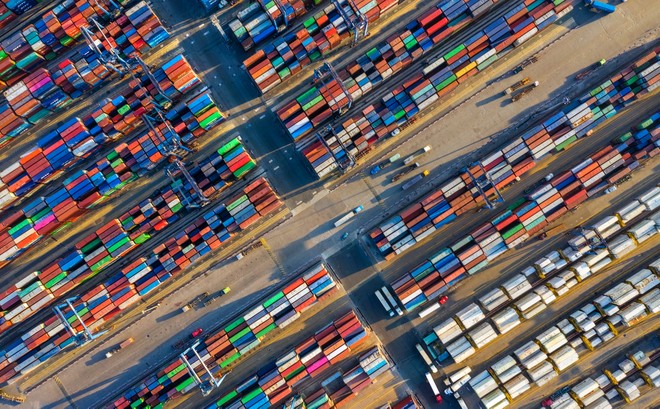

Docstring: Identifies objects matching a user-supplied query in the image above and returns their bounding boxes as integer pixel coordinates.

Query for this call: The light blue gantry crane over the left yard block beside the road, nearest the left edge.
[53,290,111,346]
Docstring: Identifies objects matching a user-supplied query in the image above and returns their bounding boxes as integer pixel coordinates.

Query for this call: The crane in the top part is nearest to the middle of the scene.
[311,125,354,179]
